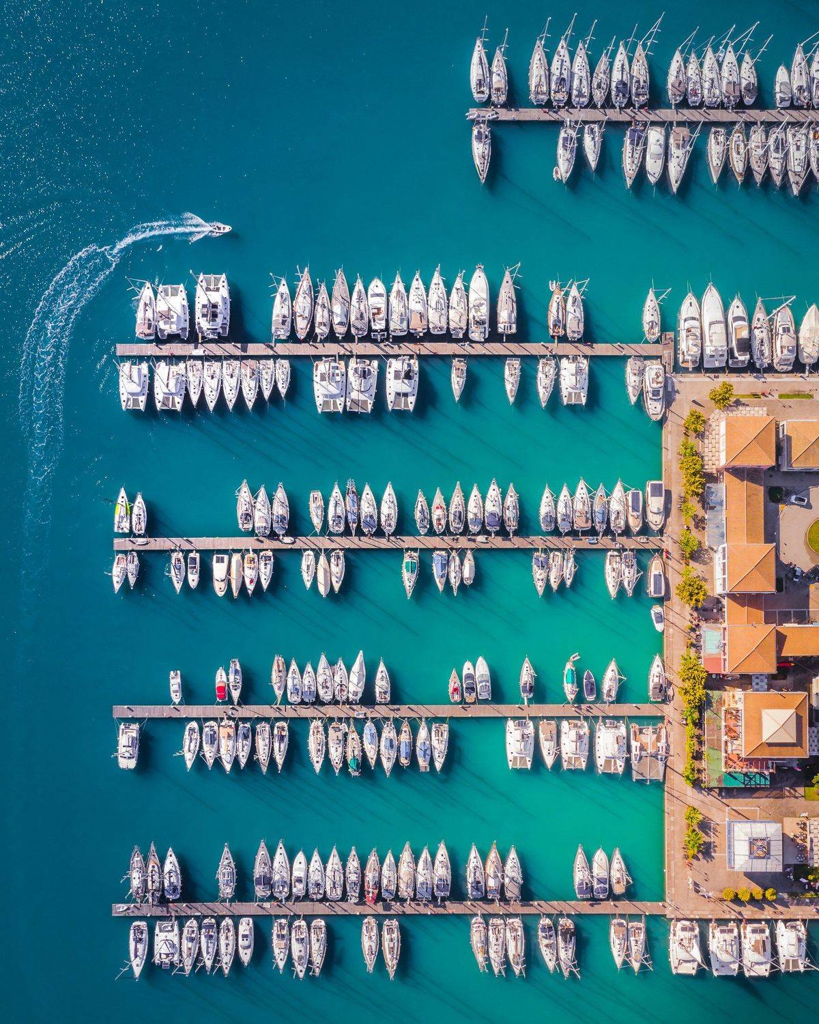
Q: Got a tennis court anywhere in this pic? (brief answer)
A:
No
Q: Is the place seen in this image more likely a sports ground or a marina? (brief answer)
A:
marina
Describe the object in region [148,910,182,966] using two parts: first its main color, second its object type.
white boat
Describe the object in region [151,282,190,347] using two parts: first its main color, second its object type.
white boat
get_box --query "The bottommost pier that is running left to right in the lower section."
[112,901,666,916]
